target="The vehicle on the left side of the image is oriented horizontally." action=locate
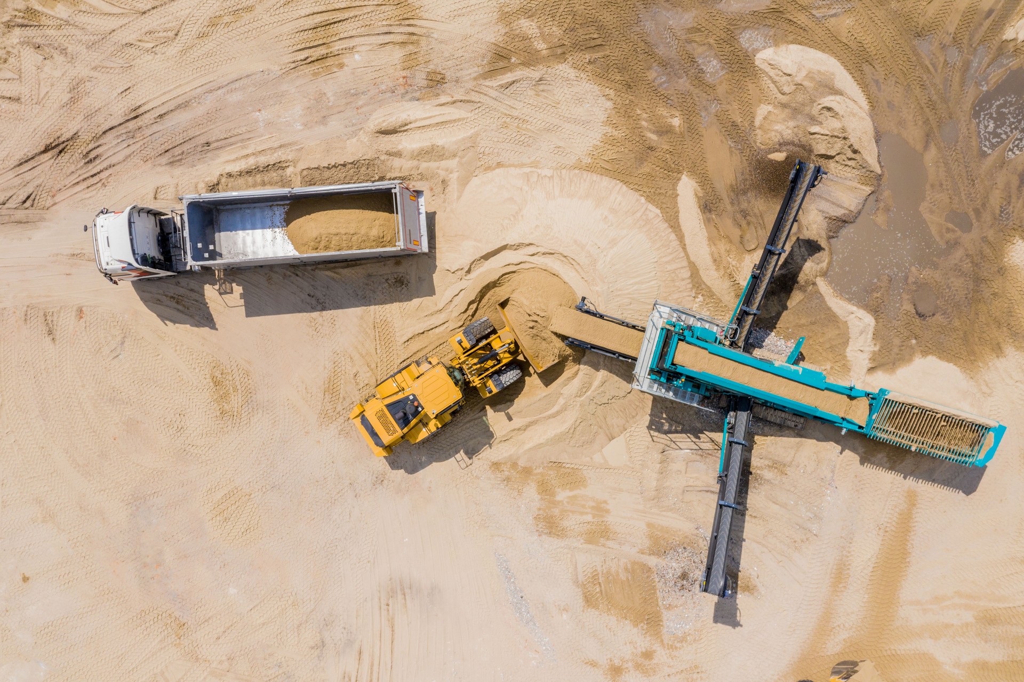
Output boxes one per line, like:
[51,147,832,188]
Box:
[83,180,429,286]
